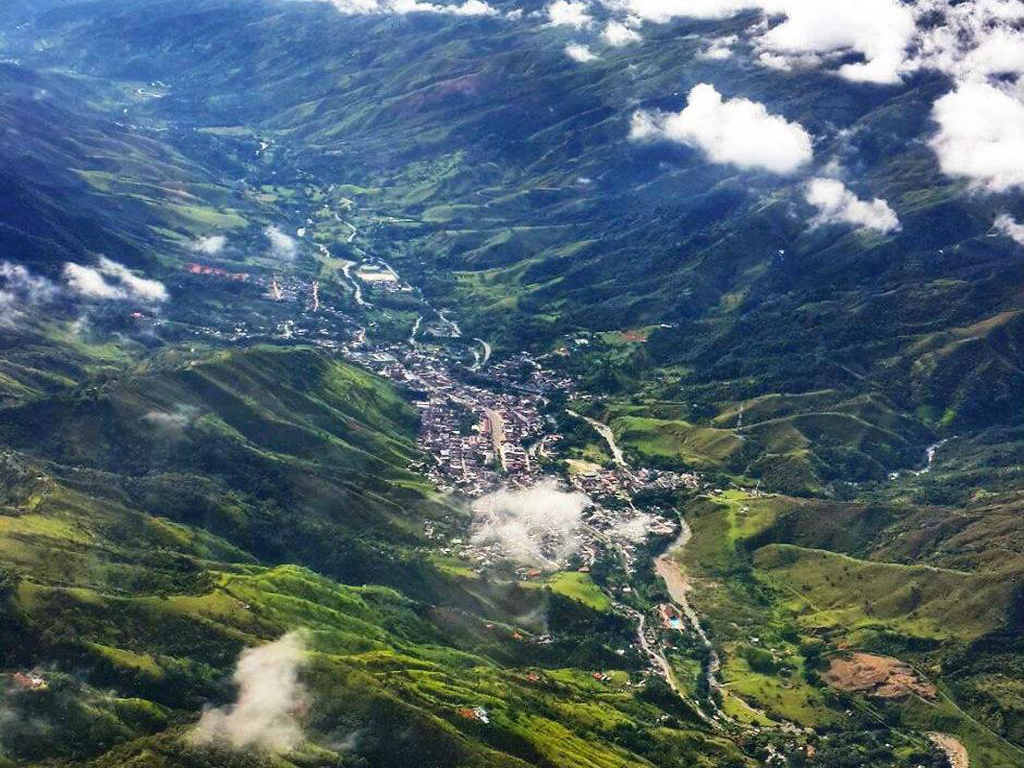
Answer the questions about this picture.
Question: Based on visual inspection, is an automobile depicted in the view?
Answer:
No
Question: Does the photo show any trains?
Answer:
No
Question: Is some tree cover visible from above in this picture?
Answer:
Yes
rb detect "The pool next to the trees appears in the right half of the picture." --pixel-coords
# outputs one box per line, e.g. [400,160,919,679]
[664,618,686,630]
